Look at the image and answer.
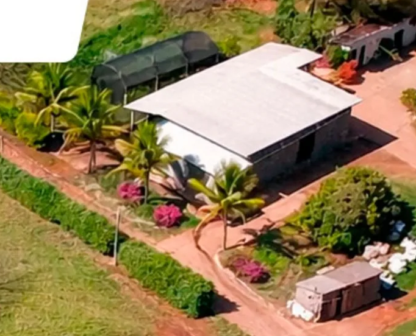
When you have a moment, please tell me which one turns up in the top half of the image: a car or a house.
house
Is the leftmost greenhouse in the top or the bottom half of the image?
top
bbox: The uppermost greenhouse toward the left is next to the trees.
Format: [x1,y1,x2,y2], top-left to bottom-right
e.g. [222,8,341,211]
[85,22,223,105]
